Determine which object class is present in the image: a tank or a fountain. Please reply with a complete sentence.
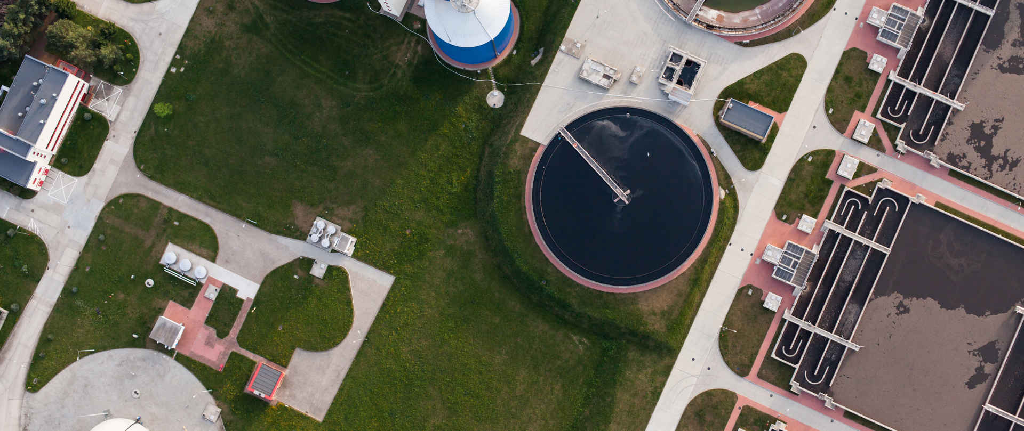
I can see a tank in this picture.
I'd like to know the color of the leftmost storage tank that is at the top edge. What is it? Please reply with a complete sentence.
From above, the leftmost storage tank that is at the top edge appears white.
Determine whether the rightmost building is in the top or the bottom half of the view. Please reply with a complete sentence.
It is in the top half that the rightmost building appears.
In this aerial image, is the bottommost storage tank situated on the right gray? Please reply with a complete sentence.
No, the bottommost storage tank situated on the right is actually black.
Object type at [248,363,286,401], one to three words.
shed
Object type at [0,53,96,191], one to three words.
building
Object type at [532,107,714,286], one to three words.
storage tank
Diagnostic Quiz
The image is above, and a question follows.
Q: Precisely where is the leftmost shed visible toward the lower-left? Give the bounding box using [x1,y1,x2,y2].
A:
[150,315,189,350]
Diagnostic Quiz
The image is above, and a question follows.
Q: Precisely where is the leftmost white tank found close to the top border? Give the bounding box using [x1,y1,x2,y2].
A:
[427,0,514,63]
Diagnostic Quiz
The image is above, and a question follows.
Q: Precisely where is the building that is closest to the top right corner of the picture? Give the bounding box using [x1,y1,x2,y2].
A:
[721,98,774,139]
